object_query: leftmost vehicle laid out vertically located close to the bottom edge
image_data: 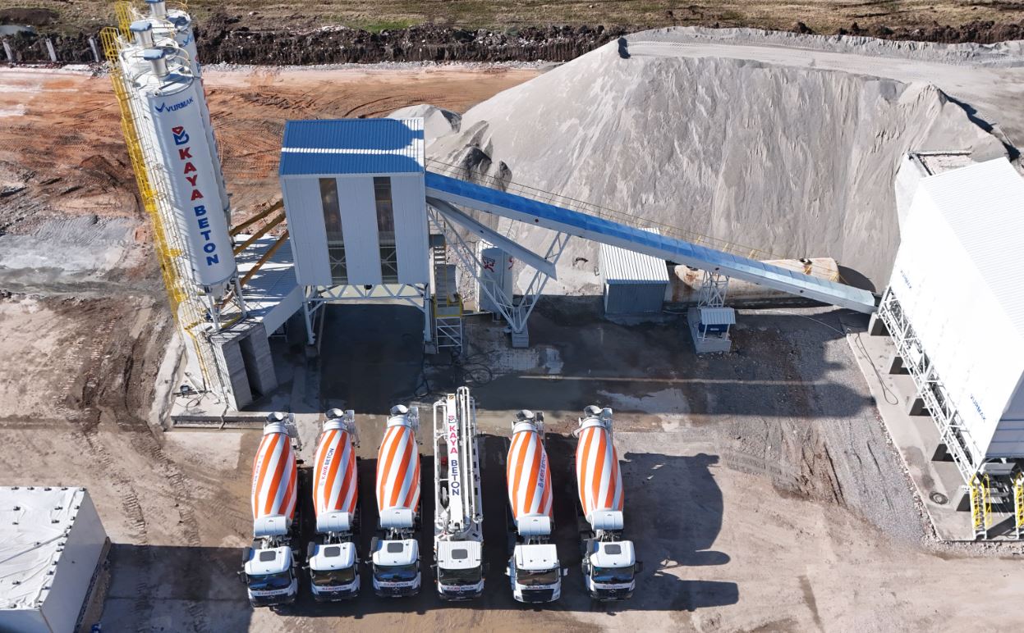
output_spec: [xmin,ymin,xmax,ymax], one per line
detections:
[231,416,306,605]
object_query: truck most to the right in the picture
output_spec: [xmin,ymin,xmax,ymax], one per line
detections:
[571,411,649,599]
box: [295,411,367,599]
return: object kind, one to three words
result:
truck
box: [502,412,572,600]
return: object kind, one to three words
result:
truck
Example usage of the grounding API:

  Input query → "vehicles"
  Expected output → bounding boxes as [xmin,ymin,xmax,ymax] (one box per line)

[295,411,367,599]
[571,411,649,599]
[359,408,430,594]
[423,389,493,597]
[231,416,306,605]
[502,412,572,600]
